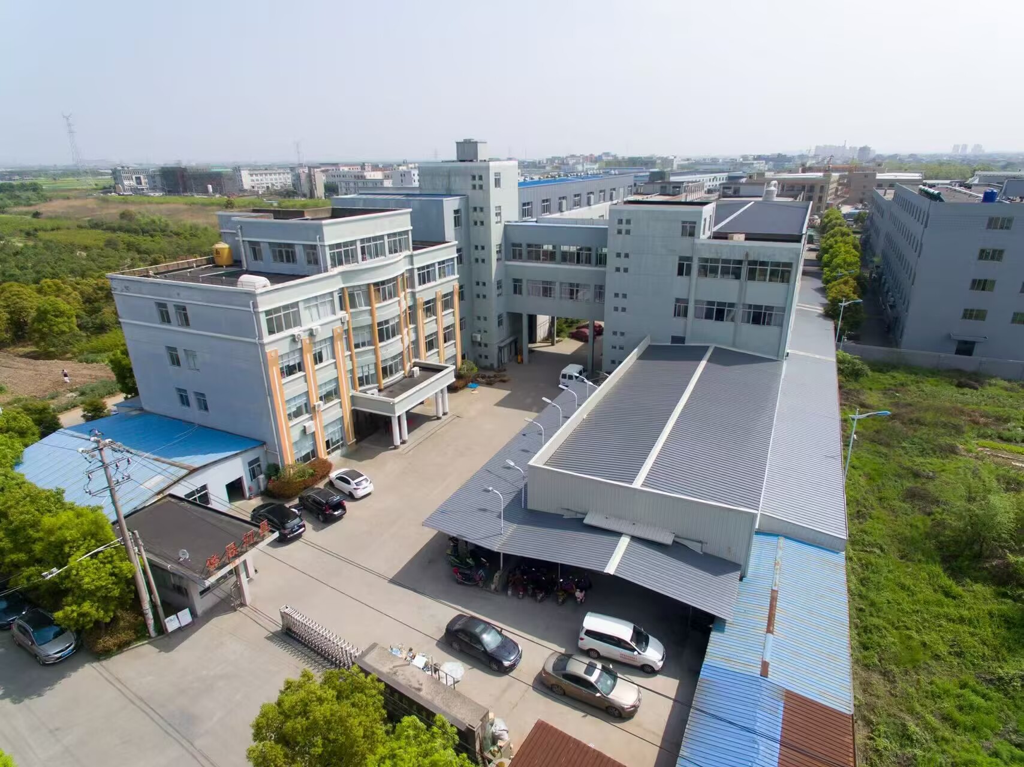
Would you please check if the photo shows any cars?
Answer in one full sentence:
Yes, a car can be made out from above.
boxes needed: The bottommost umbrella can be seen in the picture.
[440,659,474,685]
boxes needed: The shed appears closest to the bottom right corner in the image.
[678,538,856,767]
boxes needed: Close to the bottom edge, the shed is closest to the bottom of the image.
[516,719,618,767]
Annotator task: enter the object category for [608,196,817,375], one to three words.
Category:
building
